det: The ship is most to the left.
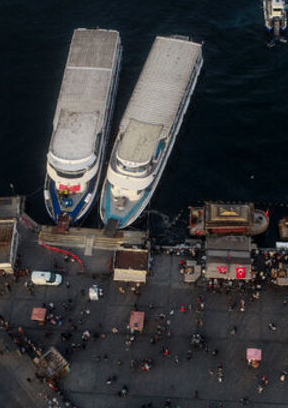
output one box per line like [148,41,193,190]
[44,23,123,228]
